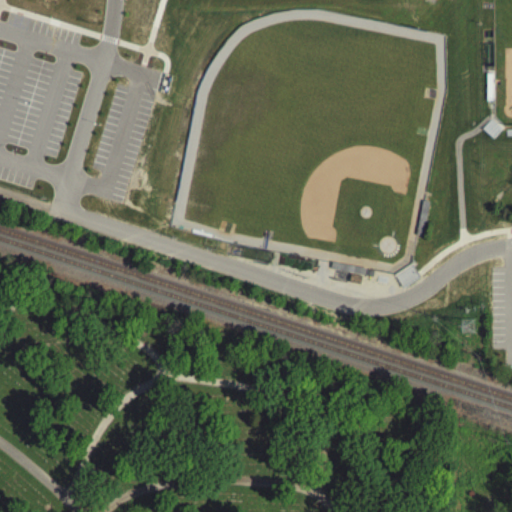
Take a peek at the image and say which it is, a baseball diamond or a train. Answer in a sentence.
There is a baseball diamond in the scene.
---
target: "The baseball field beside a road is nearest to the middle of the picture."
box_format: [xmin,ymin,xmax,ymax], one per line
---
[172,10,446,274]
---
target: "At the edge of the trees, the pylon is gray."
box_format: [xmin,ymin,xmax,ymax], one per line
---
[460,318,477,334]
